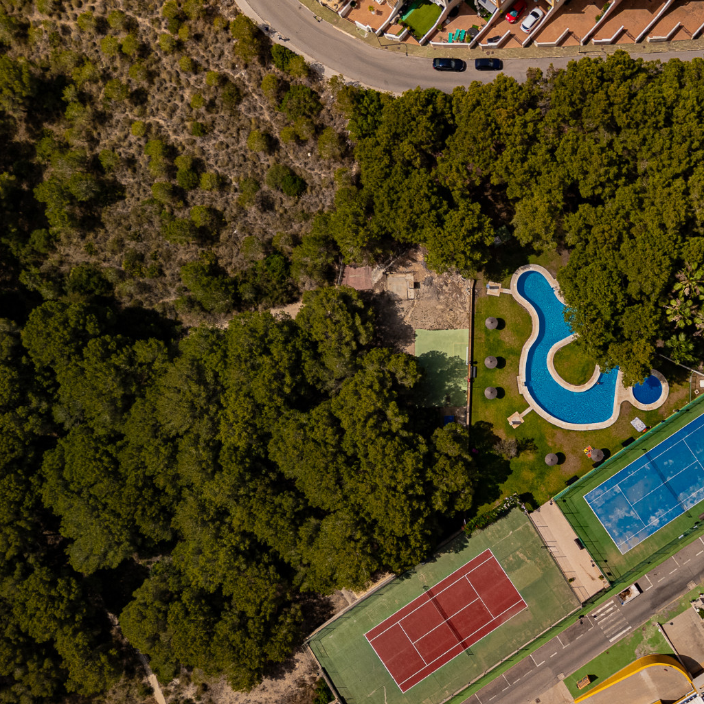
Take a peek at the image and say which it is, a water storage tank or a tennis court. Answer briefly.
tennis court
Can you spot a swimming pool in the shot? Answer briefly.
Yes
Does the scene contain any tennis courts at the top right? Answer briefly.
No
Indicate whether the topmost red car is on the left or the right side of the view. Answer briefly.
right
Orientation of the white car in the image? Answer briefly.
at an angle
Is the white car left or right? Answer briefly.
right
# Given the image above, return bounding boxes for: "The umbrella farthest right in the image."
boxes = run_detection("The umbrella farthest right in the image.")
[590,449,603,461]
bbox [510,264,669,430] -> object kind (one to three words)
swimming pool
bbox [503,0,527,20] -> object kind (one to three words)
car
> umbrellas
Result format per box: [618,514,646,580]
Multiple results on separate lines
[485,317,498,331]
[484,386,497,400]
[544,453,558,466]
[590,449,603,461]
[484,356,498,369]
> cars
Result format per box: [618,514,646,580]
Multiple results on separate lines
[432,55,464,71]
[519,4,544,31]
[474,54,501,70]
[503,0,527,20]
